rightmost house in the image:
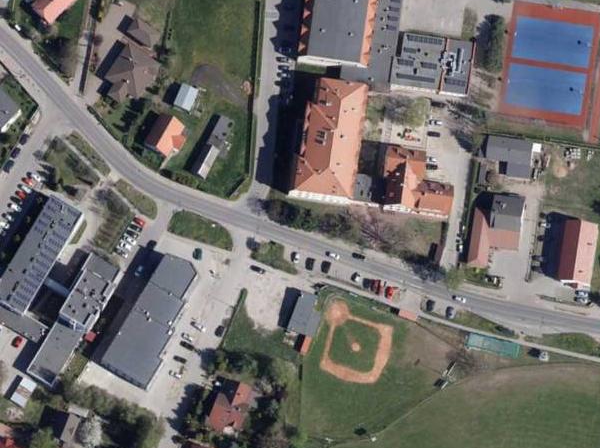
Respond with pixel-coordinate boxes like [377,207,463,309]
[557,219,598,287]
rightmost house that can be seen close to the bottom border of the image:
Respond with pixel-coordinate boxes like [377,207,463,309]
[207,380,254,435]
